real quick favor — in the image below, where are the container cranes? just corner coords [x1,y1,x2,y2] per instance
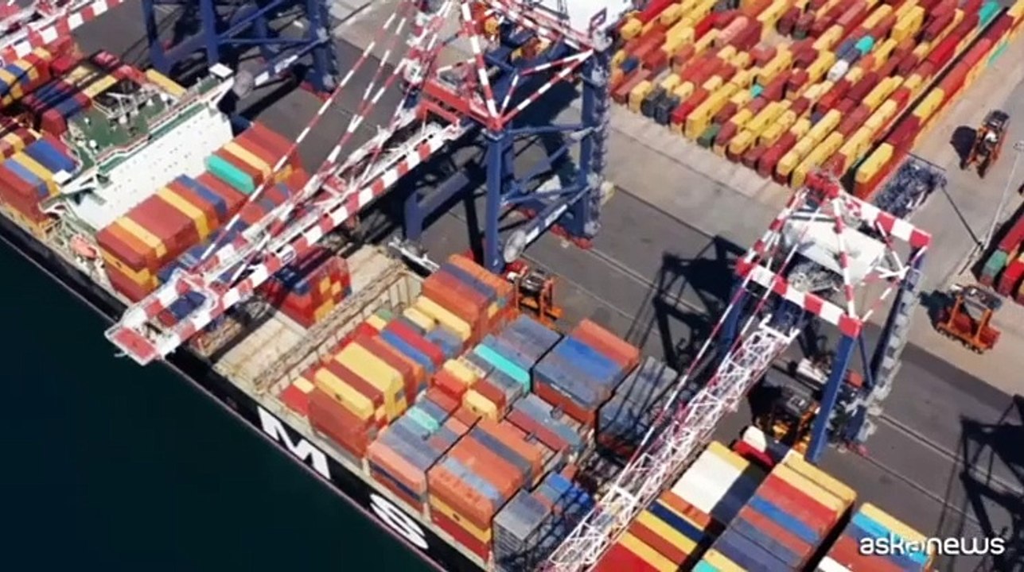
[100,0,649,376]
[525,162,953,572]
[0,0,326,142]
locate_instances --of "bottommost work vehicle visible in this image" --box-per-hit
[749,363,819,448]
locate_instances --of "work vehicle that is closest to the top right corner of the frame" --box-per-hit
[961,100,1012,172]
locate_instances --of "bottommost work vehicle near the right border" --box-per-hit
[927,271,1000,352]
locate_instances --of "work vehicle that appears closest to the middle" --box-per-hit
[518,253,573,319]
